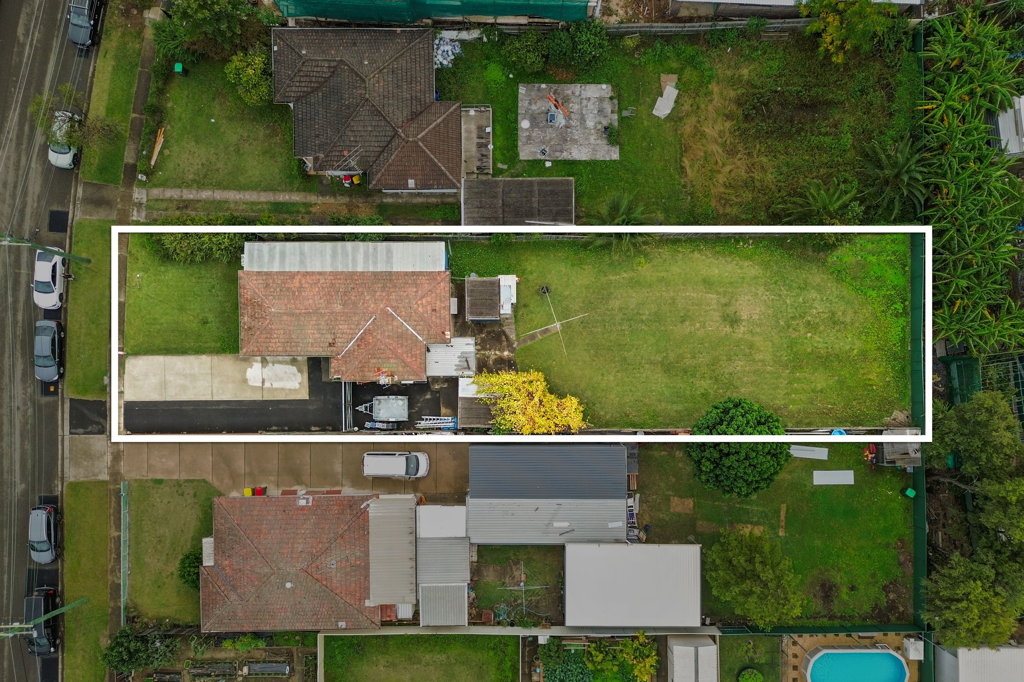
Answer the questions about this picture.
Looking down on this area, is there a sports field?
No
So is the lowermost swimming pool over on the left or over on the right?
right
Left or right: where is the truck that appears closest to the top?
left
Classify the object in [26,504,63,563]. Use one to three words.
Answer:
car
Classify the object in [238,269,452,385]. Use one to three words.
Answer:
house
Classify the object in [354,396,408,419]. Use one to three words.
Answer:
trailer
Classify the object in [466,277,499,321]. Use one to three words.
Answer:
shed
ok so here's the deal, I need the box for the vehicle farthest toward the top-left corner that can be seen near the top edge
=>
[59,0,101,51]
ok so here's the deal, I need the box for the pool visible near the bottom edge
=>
[791,634,911,682]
